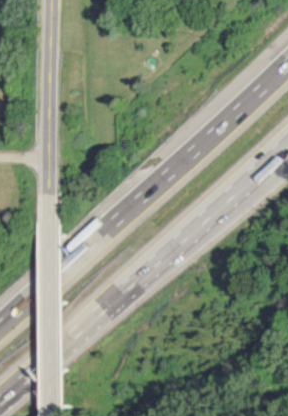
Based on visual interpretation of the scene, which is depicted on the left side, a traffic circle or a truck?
truck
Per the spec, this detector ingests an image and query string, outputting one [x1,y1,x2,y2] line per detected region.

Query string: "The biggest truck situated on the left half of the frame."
[64,222,102,257]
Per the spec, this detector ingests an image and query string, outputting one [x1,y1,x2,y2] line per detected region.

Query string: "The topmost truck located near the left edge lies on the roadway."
[10,290,38,318]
